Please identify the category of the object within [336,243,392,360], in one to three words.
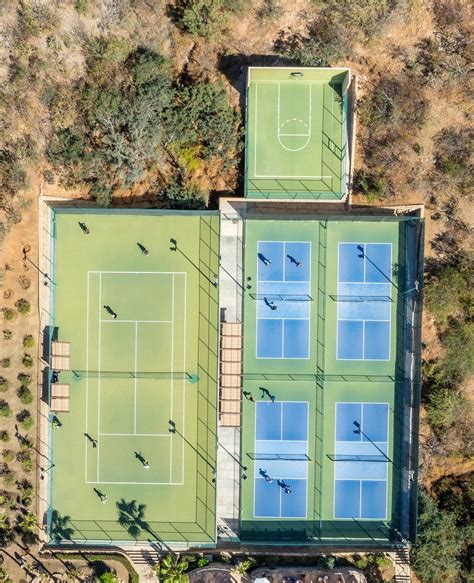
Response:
sports court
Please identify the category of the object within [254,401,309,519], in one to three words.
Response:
sports court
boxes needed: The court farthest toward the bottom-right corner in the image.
[334,402,390,520]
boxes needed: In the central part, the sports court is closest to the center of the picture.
[255,241,311,359]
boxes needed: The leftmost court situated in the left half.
[52,212,220,543]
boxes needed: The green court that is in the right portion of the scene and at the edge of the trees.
[244,80,343,199]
